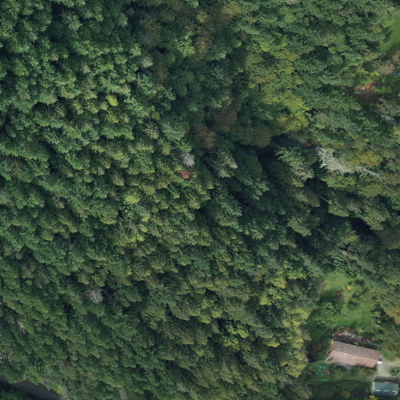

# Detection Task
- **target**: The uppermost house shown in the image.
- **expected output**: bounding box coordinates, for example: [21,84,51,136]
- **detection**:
[326,339,380,368]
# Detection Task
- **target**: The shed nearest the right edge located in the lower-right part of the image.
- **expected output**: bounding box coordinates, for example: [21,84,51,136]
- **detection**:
[368,378,399,397]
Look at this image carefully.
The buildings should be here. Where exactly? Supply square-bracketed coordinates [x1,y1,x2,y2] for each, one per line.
[368,378,399,397]
[326,339,380,368]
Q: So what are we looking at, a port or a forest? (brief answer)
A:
forest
